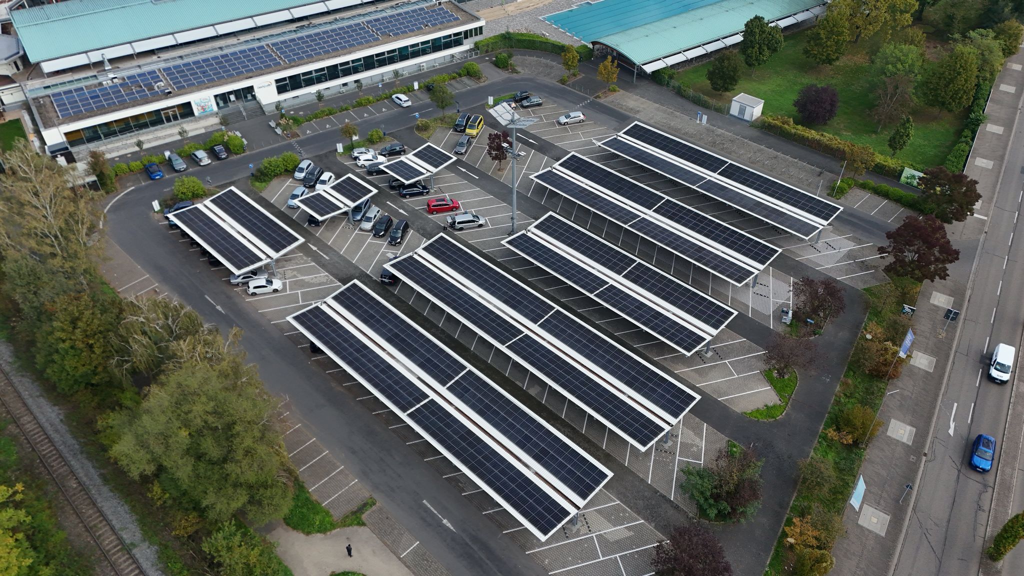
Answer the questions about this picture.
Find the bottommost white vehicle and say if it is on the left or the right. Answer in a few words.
right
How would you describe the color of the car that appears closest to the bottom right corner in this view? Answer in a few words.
blue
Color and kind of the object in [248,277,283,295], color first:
white car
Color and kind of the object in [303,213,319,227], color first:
black car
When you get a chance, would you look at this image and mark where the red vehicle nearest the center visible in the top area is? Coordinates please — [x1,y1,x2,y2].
[425,196,460,214]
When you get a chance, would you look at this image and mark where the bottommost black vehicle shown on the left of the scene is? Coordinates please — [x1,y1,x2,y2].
[300,339,324,357]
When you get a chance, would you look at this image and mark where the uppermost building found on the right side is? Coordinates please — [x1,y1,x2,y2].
[594,0,824,85]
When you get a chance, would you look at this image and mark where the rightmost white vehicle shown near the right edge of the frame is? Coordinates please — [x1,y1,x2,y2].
[987,340,1015,383]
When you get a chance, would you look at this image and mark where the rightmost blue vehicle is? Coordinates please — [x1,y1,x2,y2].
[969,431,996,471]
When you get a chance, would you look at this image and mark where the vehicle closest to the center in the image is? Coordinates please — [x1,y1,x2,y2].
[445,212,486,231]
